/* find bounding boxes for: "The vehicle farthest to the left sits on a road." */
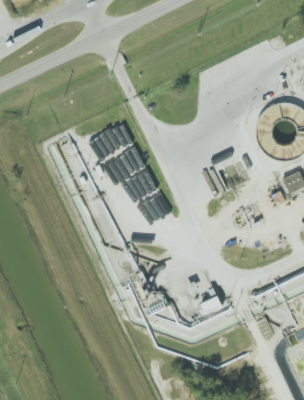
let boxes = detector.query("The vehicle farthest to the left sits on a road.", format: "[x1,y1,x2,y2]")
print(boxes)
[6,24,46,46]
